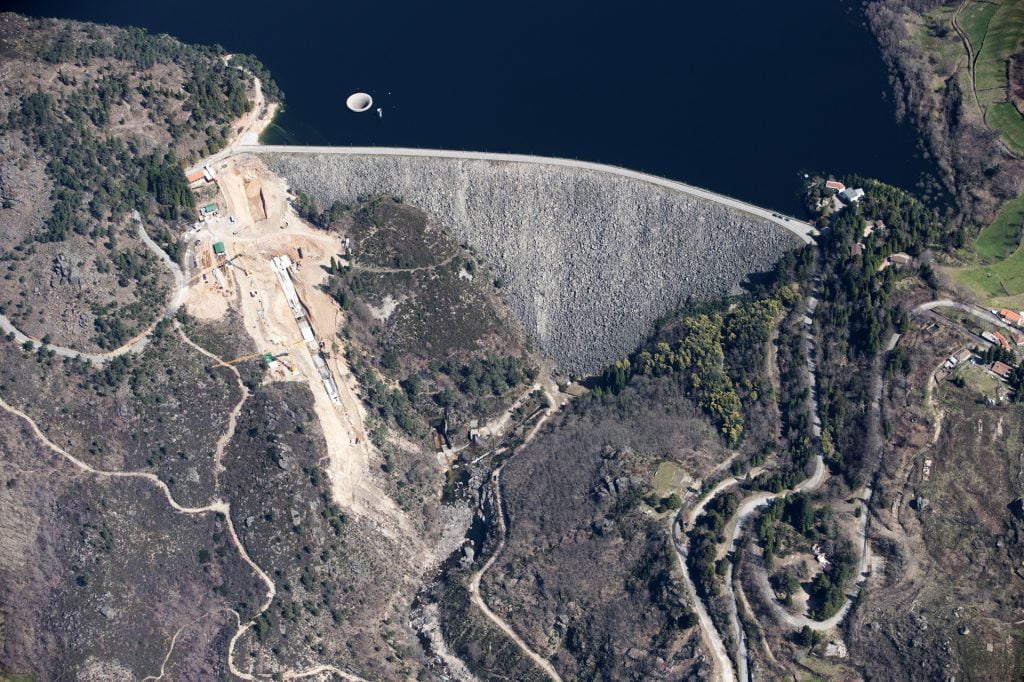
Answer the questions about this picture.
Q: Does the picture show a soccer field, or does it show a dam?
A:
dam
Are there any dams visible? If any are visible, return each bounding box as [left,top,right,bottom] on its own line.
[238,145,820,381]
